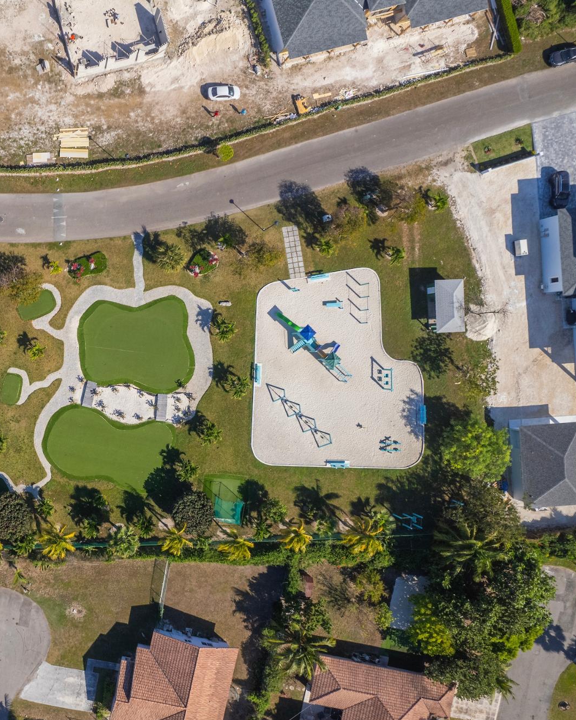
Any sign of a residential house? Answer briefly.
Yes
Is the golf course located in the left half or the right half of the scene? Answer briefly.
left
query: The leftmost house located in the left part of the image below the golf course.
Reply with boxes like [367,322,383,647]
[105,626,238,720]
